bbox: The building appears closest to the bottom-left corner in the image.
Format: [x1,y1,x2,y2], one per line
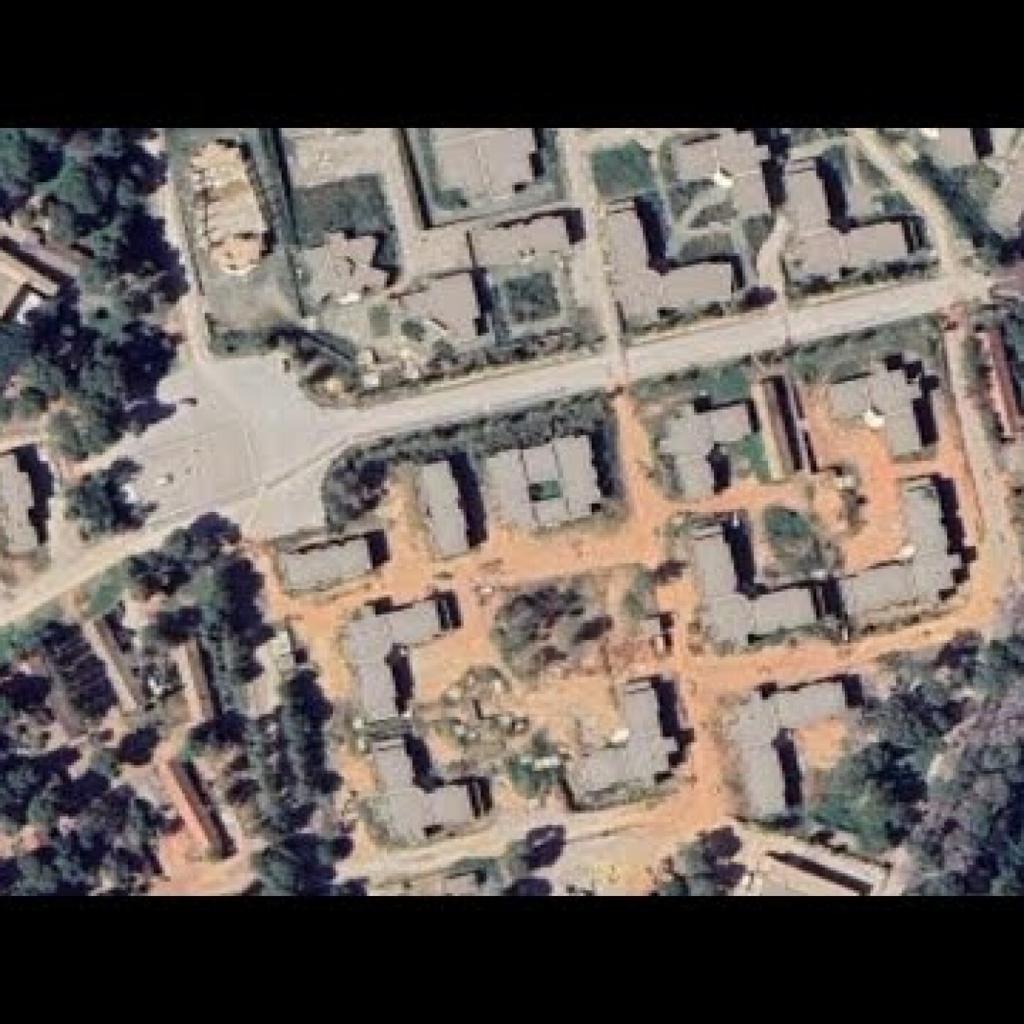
[158,757,224,859]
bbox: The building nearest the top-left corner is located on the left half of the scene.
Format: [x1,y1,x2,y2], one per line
[0,252,56,318]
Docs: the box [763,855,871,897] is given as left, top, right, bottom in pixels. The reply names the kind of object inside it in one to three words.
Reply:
building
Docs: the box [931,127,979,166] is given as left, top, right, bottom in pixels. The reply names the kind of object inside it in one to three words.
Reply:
house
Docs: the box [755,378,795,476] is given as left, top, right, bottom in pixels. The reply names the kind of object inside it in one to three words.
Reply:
building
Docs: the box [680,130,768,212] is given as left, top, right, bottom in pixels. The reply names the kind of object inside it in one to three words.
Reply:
house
